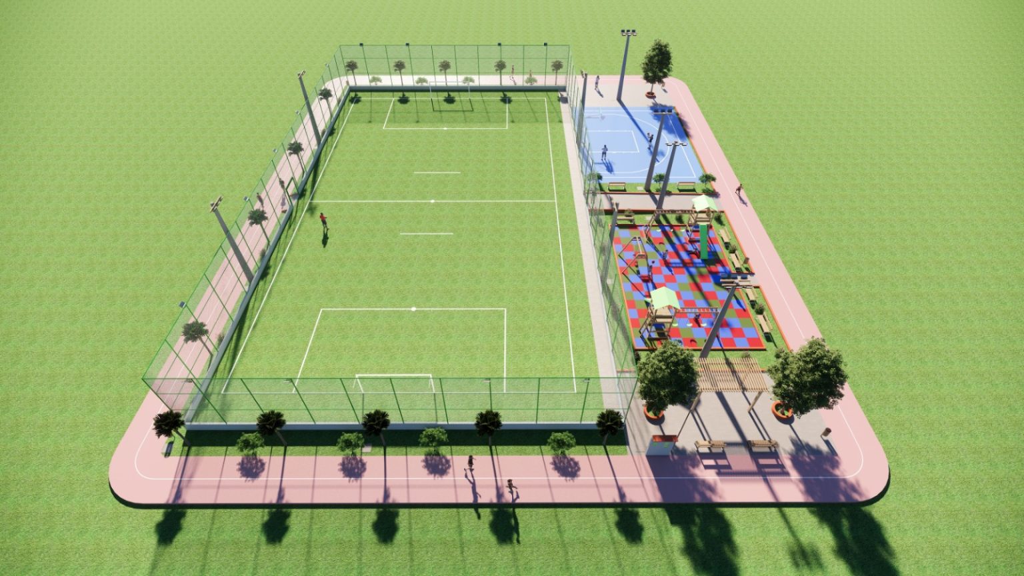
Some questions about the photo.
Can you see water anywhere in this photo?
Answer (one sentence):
No, the picture contains no water.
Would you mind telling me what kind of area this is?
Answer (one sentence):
The area seen from above is a sports ground.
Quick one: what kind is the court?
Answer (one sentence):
It looks like the court is a basketball court.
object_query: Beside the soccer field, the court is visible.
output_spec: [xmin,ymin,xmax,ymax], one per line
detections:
[572,107,706,182]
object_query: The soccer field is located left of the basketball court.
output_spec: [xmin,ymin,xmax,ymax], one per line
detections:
[194,92,606,421]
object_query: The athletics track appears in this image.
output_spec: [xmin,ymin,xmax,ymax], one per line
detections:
[113,76,885,505]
